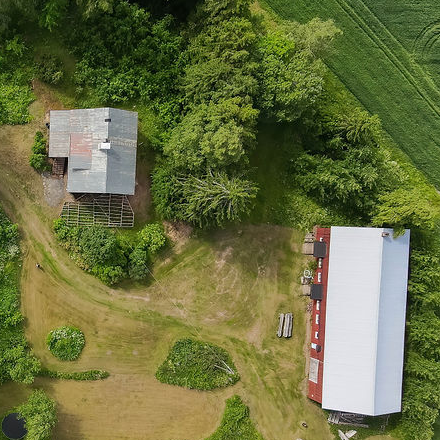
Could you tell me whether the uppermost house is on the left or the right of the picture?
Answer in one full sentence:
You can find the uppermost house on the left side of the picture.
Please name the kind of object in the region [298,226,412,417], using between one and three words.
barn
